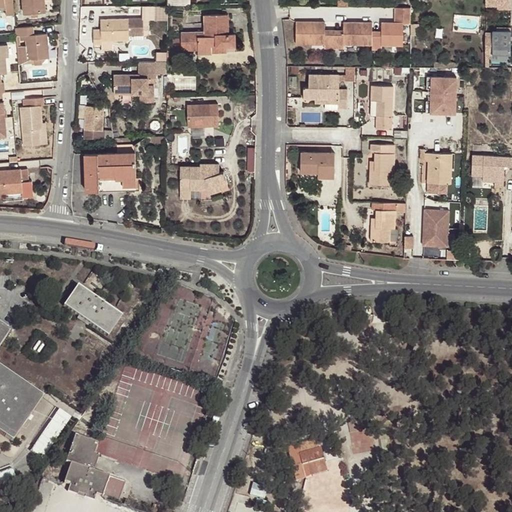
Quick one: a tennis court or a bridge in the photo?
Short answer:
tennis court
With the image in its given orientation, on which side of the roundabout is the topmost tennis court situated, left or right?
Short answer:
left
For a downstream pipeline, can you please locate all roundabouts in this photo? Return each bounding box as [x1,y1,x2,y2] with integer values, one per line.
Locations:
[254,250,304,301]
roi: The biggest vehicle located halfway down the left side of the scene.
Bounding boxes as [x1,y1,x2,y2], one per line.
[64,238,102,252]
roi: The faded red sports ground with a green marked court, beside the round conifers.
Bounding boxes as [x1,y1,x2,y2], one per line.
[138,285,232,379]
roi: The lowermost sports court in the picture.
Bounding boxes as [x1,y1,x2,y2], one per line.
[97,366,204,476]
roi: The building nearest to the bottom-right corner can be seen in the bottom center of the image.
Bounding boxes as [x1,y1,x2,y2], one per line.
[288,439,328,480]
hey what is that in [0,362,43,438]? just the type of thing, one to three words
building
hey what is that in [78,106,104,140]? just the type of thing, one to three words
house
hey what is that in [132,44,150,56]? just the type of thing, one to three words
swimming pool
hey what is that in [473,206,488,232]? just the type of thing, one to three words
swimming pool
